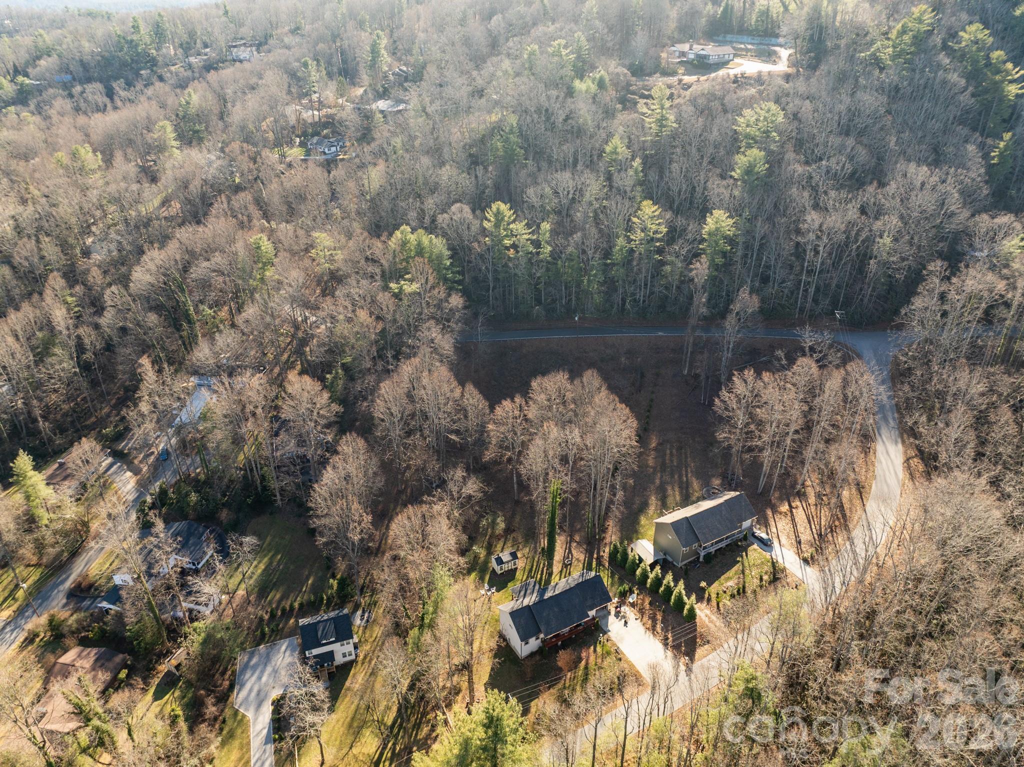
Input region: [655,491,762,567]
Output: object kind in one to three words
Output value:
house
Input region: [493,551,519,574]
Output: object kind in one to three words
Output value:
shed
